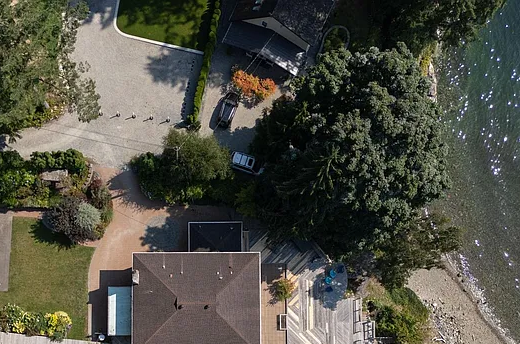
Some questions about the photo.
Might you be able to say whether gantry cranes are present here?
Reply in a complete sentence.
No, the photo shows no gantry crane.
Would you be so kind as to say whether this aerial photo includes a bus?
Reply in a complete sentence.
No, there is no bus in the image.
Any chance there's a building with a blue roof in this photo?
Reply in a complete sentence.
No, there appears to be no building with a blue roof in this shot.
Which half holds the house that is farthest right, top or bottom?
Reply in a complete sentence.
The house that is farthest right sits in the top half of the picture.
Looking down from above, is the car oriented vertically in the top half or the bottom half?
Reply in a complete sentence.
Seen from above, the car oriented vertically lies in the top half of the view.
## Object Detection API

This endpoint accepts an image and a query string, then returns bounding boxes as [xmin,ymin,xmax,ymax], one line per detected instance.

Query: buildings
[221,0,331,83]
[132,221,262,344]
